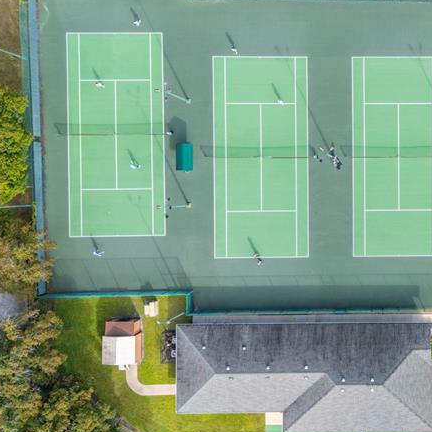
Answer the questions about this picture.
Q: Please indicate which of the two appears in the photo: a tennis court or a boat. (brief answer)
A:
tennis court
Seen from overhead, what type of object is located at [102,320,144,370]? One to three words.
shed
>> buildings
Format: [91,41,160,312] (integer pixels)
[102,320,144,370]
[176,310,432,432]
